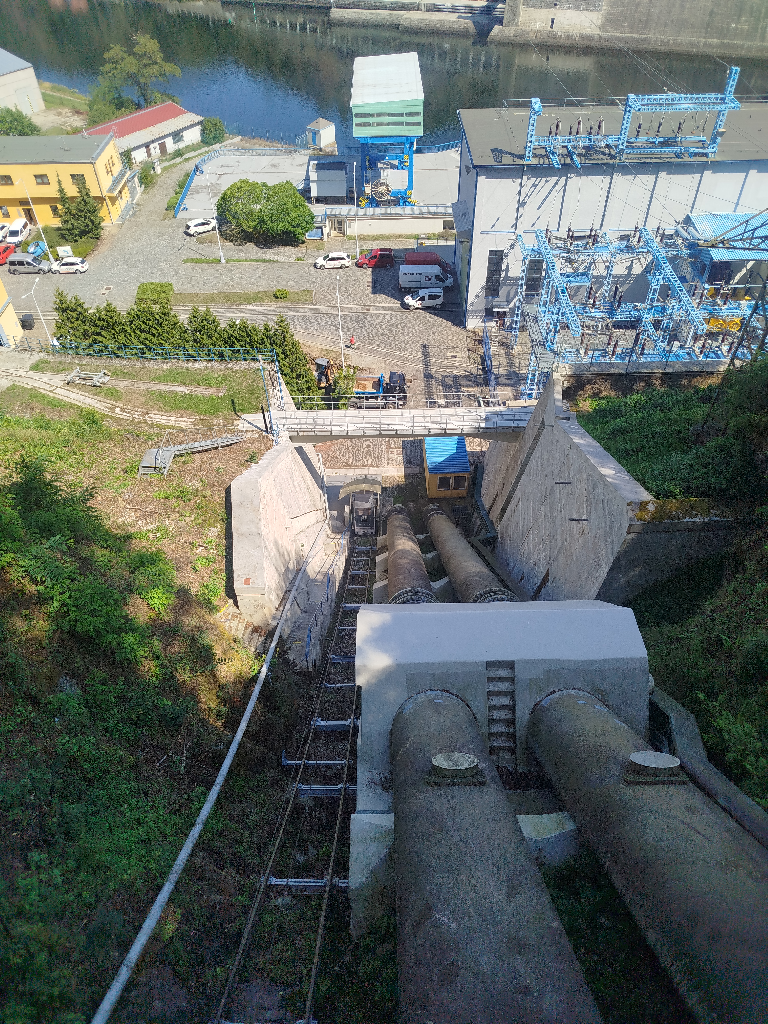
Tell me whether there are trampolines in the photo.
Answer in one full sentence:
No, there isn't any trampoline down there.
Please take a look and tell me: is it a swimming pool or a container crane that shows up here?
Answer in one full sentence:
The image shows a container crane.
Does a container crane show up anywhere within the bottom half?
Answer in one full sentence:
No, within the bottom half there is no container crane.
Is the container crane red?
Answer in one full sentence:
No, the container crane is white.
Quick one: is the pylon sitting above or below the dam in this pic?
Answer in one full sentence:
It's below the dam that the pylon shows up.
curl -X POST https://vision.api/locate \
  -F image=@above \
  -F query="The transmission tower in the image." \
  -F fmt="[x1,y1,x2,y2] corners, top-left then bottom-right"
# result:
[691,212,768,446]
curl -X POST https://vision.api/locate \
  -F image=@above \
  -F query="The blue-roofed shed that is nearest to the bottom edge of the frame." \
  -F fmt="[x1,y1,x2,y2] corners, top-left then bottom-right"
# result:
[422,436,470,497]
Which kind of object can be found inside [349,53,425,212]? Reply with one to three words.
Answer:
container crane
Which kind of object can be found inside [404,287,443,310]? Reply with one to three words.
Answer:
vehicle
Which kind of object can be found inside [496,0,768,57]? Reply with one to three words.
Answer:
dam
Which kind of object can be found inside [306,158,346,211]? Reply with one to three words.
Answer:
building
